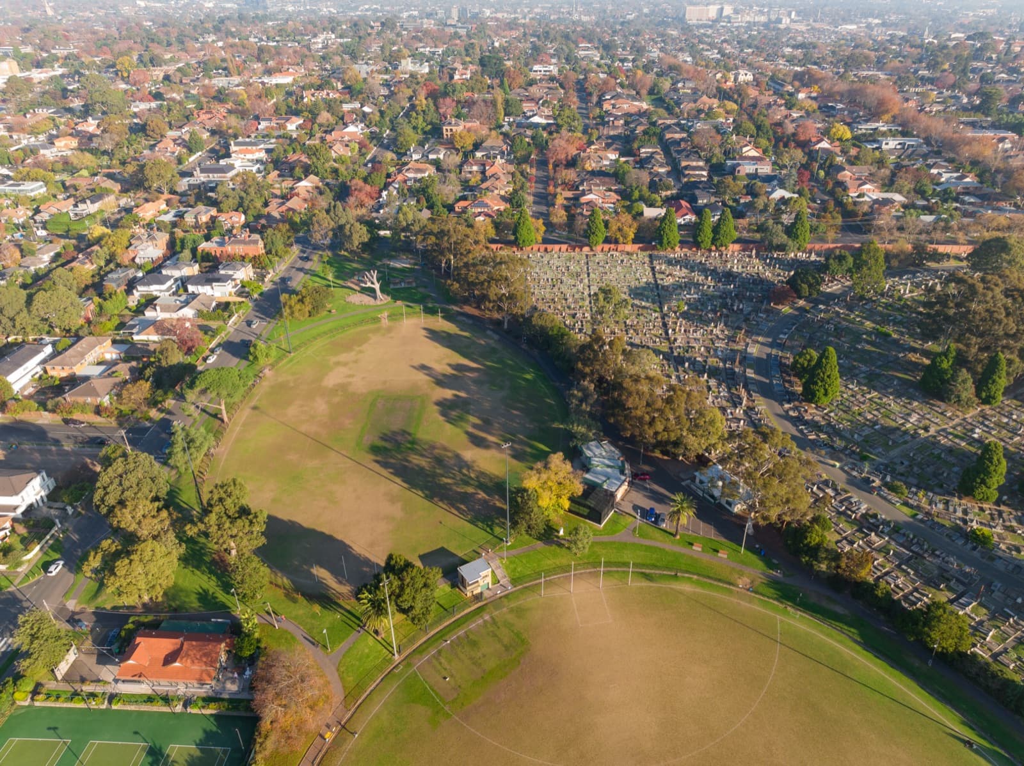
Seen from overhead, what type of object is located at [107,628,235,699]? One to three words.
building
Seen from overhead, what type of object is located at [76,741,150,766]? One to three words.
tennis court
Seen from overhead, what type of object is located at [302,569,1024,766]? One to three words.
sports field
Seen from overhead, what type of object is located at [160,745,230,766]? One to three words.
tennis court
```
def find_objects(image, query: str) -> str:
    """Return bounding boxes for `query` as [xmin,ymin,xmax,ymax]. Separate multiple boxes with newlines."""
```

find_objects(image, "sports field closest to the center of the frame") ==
[211,315,570,595]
